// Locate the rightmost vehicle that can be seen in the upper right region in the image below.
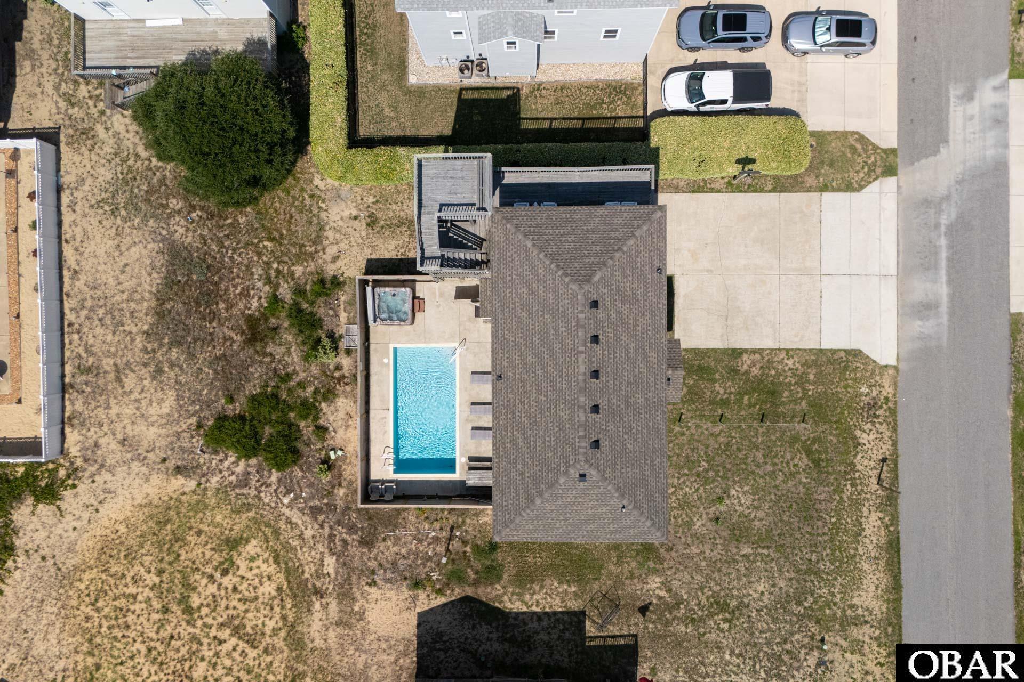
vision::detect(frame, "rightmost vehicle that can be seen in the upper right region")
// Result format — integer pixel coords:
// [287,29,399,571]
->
[781,10,875,59]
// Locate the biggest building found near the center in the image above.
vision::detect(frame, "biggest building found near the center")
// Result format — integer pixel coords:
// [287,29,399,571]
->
[479,203,685,544]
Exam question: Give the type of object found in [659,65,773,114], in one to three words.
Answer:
truck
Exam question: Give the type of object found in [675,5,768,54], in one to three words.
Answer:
car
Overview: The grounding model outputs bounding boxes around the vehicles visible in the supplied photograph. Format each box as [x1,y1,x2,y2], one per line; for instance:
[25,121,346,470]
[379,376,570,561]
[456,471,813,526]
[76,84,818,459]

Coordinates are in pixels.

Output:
[781,10,875,59]
[675,5,768,54]
[659,65,773,114]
